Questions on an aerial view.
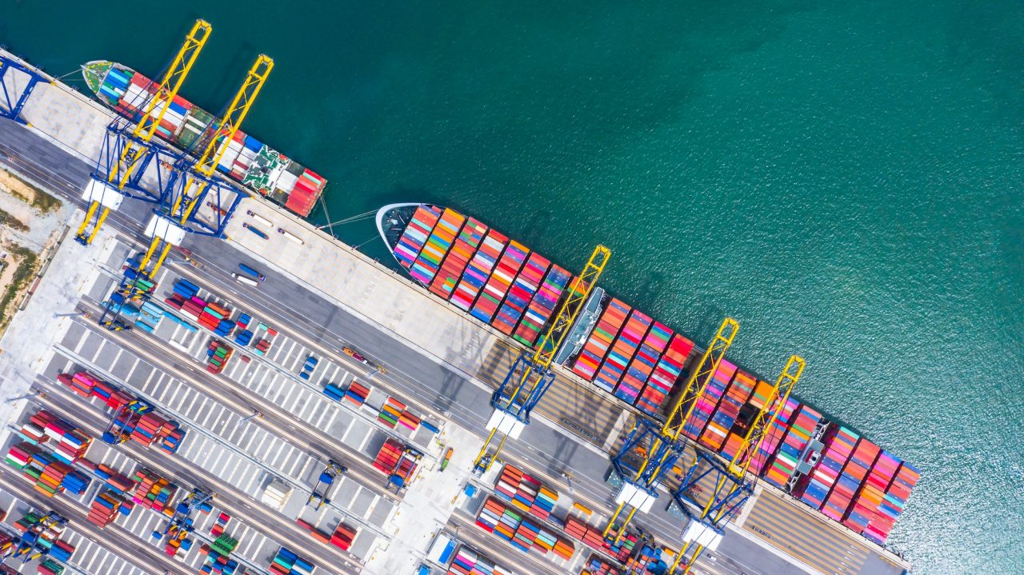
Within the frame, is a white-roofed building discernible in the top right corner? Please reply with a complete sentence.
No, looking in the top right corner, there is no white-roofed building.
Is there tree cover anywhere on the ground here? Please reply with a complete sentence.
No, no tree cover is visible.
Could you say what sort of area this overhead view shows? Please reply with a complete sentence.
The area seen from above is a port.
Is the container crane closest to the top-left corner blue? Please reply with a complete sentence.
Yes, blue is the color of the container crane closest to the top-left corner.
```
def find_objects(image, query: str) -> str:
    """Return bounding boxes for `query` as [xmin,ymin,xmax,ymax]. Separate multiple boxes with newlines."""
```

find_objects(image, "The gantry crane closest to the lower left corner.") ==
[14,508,72,566]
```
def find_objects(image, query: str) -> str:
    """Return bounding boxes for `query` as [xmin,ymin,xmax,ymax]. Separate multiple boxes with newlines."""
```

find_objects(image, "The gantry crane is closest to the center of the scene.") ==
[471,247,611,475]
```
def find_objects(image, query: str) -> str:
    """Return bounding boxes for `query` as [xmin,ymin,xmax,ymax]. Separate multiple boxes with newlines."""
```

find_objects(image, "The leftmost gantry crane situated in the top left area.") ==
[0,54,55,127]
